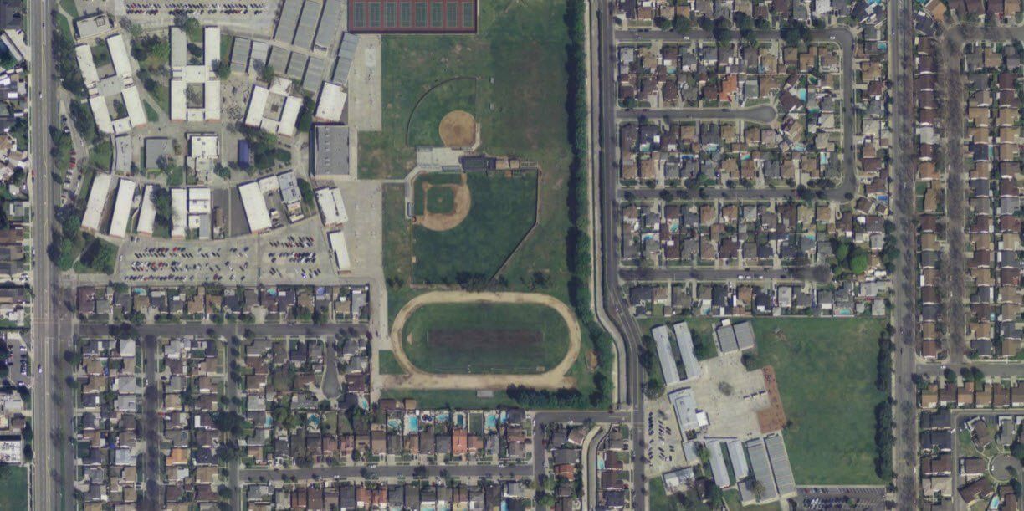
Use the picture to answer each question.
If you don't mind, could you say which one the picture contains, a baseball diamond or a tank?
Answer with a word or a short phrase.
baseball diamond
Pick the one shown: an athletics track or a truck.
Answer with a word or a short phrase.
athletics track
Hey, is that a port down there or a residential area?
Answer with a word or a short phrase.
residential area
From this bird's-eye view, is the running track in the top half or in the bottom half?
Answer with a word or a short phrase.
bottom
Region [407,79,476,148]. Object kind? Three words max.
baseball field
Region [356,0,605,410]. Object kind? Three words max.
sports field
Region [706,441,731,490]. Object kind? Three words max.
building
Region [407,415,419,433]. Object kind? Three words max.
swimming pool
